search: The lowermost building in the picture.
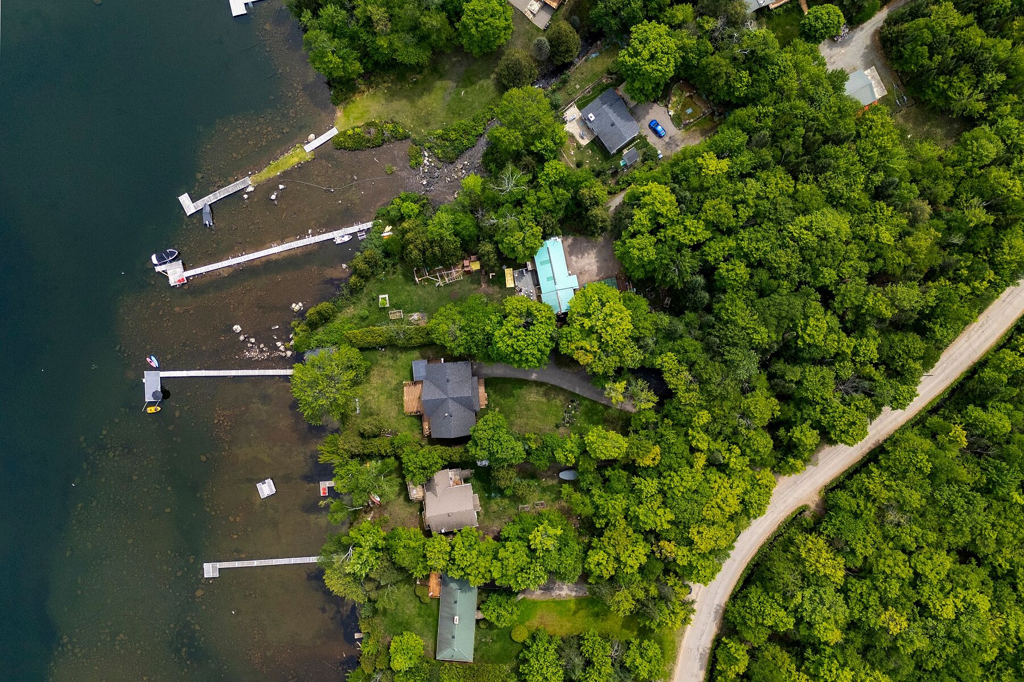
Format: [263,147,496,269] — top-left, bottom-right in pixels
[417,570,483,662]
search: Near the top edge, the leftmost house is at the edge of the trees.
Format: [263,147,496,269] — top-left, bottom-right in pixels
[506,0,562,32]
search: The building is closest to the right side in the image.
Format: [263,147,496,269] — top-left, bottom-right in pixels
[835,66,887,110]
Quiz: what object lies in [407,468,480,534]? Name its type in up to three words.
house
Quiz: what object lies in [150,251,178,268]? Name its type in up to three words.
boat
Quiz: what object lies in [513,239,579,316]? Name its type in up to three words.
house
